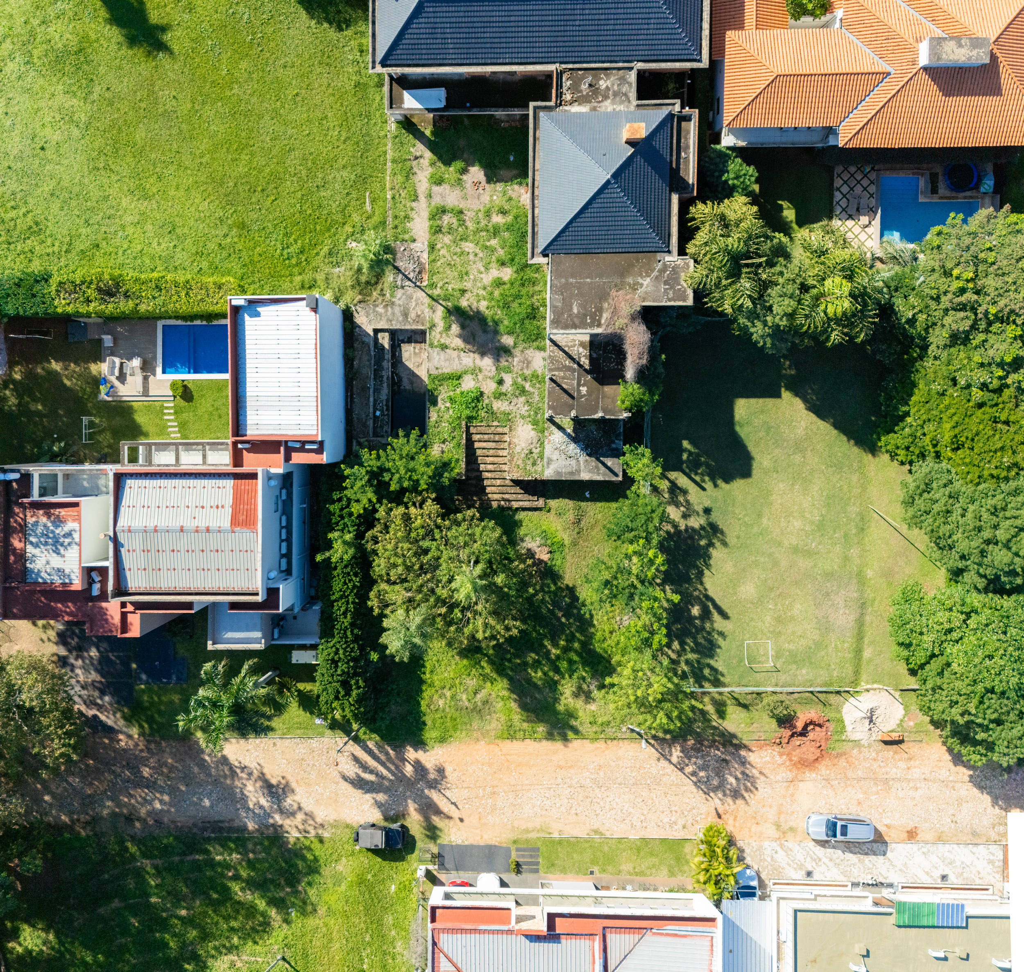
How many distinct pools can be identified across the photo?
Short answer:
2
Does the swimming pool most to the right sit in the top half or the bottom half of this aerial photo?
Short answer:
top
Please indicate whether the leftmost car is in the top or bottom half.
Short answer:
bottom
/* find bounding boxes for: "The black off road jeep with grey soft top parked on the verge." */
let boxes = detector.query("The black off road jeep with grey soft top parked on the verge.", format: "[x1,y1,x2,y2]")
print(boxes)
[351,820,409,857]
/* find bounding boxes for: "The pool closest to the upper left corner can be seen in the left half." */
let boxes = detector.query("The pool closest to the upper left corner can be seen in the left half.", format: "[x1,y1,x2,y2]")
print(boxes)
[157,320,229,379]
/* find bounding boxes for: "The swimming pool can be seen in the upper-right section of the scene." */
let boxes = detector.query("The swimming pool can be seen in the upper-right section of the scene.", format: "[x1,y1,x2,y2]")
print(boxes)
[875,170,1000,252]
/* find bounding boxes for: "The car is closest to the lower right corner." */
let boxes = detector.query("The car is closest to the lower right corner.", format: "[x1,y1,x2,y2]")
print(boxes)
[802,809,875,847]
